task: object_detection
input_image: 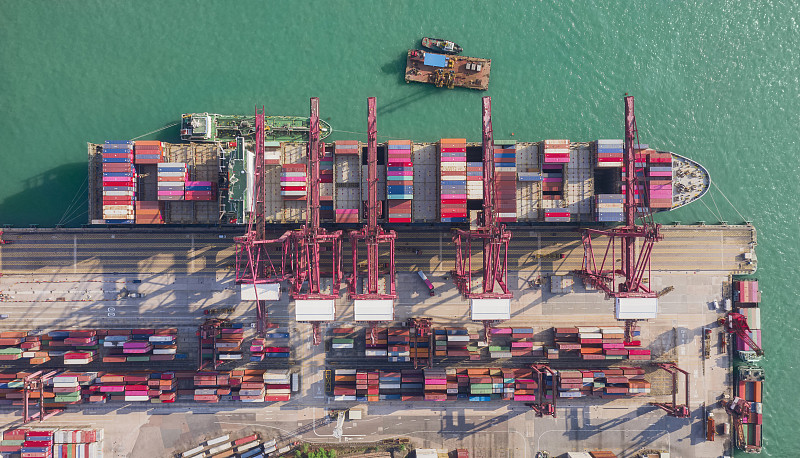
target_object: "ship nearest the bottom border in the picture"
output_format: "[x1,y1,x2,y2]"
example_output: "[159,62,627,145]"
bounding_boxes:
[734,365,767,453]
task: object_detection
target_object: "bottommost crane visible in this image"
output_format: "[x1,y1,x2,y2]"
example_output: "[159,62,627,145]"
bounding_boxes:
[721,398,752,452]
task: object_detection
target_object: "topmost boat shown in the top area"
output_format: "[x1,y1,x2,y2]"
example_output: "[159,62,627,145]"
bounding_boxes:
[420,38,462,53]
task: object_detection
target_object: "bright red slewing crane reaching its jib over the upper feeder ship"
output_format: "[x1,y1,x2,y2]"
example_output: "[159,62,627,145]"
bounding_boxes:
[718,313,760,355]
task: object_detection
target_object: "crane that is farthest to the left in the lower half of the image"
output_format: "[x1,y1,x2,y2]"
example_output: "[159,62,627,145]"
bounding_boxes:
[25,371,62,423]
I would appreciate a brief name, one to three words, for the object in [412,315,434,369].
container crane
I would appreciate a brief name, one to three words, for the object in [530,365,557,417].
container crane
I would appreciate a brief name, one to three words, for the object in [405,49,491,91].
ship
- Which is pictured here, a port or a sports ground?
port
